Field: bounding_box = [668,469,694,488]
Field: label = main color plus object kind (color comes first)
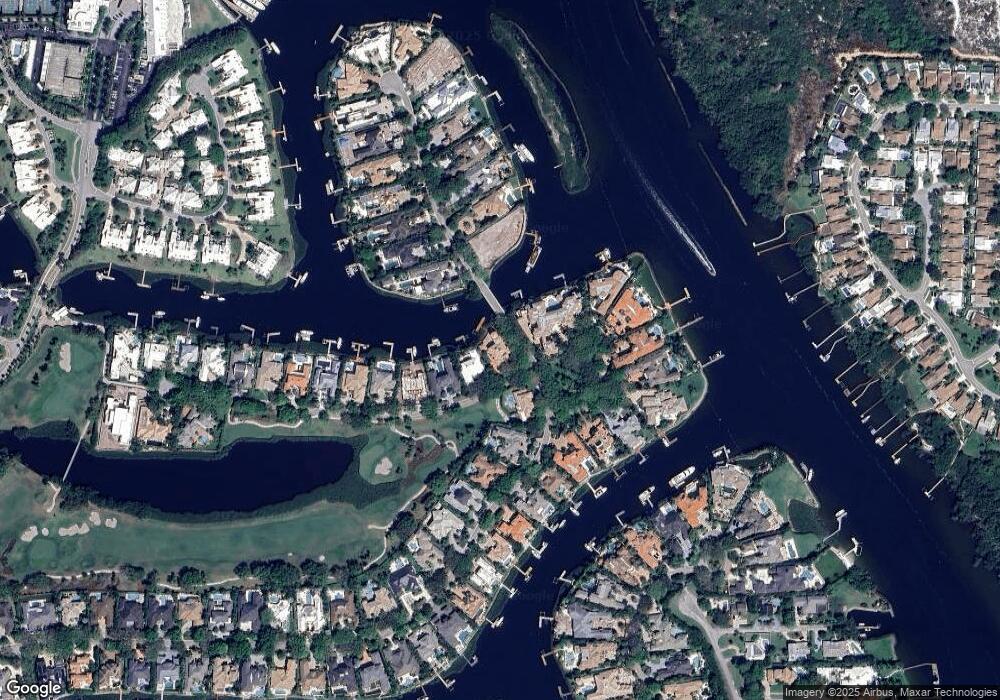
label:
white boat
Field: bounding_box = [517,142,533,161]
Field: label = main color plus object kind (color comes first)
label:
white boat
